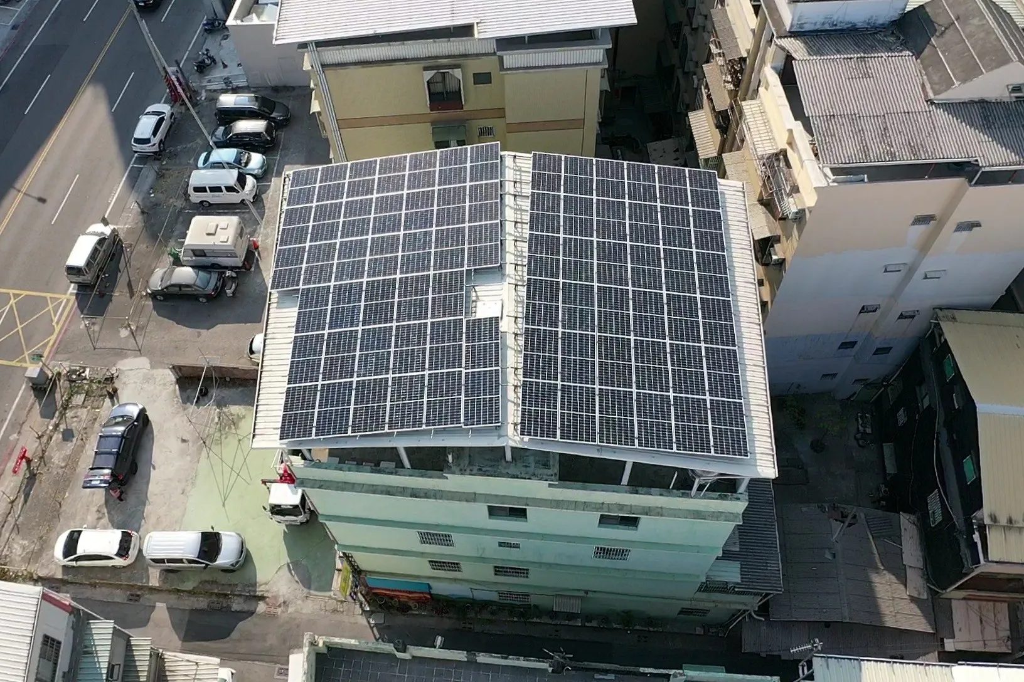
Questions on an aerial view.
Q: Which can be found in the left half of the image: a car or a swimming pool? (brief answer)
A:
car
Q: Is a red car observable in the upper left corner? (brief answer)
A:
No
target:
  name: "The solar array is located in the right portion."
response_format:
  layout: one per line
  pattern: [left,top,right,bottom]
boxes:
[515,151,752,457]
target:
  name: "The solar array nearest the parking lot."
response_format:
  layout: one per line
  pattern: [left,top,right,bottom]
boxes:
[268,141,505,452]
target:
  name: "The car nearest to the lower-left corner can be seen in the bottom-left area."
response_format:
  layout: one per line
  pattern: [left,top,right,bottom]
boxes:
[51,528,147,572]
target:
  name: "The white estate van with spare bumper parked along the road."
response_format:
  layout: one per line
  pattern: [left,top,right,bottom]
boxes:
[64,226,127,287]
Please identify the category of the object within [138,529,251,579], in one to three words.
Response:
car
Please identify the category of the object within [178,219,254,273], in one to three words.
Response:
camper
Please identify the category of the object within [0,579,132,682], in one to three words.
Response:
building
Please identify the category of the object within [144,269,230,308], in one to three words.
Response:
car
